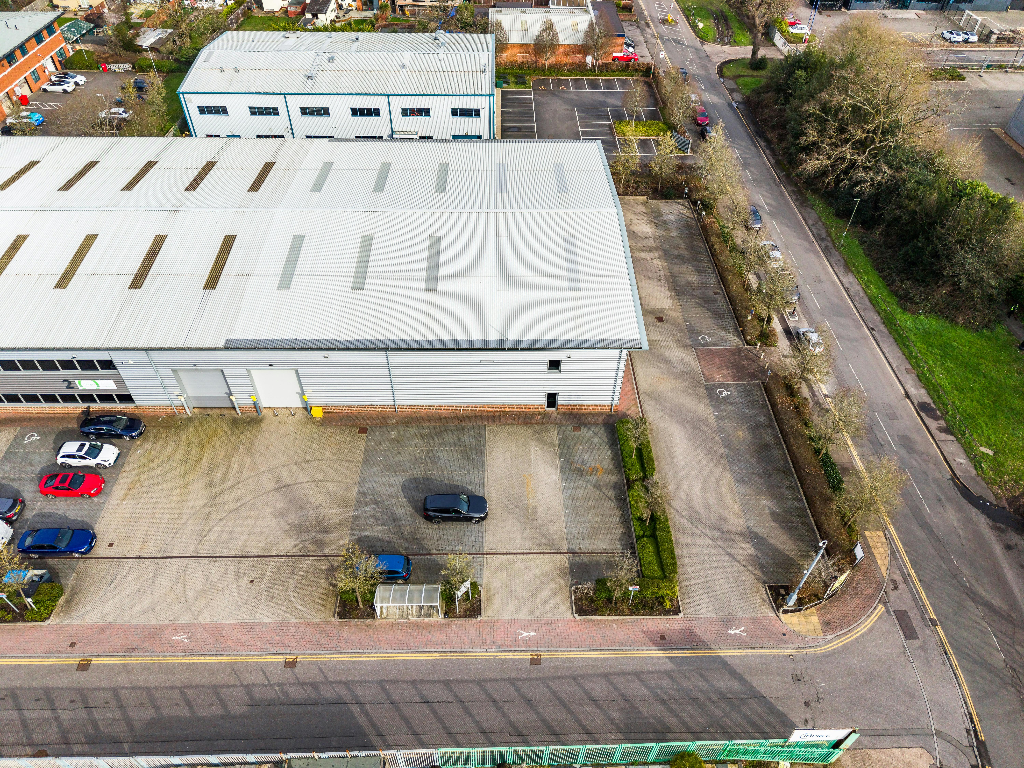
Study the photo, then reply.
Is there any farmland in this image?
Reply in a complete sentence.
No, there is no farmland in the image.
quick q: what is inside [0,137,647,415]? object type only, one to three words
warehouse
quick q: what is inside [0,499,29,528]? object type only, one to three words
car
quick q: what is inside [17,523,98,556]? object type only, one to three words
car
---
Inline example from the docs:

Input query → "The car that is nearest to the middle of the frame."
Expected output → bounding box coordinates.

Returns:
[422,490,489,523]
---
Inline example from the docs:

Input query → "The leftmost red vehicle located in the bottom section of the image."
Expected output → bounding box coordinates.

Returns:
[38,469,107,497]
